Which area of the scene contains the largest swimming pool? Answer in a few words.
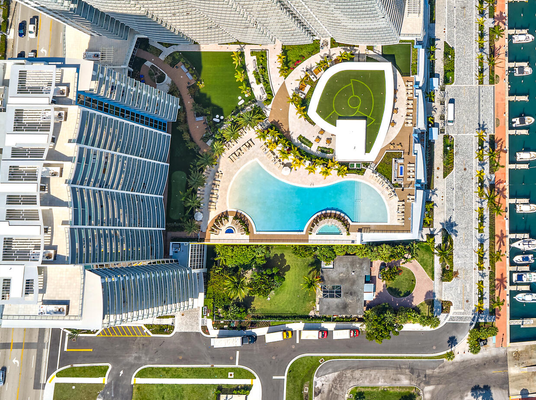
center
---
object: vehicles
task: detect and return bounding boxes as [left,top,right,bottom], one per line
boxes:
[28,48,38,59]
[298,329,327,340]
[331,329,359,340]
[18,22,26,37]
[17,49,25,58]
[207,335,256,347]
[262,331,292,343]
[378,262,386,279]
[28,19,38,37]
[0,367,6,384]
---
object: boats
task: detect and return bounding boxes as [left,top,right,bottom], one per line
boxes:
[511,240,536,251]
[511,117,534,126]
[513,273,536,283]
[511,34,534,43]
[513,255,536,264]
[510,66,532,75]
[514,203,536,213]
[514,293,536,303]
[513,152,536,161]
